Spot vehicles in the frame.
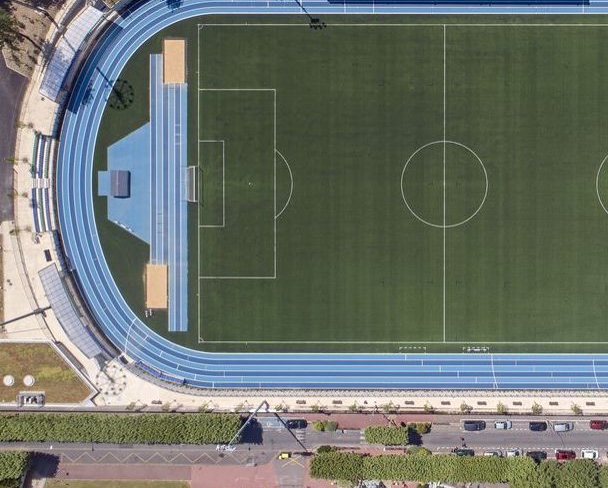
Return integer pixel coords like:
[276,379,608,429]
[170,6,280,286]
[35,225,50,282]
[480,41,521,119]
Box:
[525,449,548,461]
[454,447,475,457]
[493,420,513,431]
[286,419,308,429]
[463,420,486,430]
[588,420,608,431]
[279,451,290,460]
[504,448,525,460]
[553,448,576,460]
[527,421,548,431]
[482,448,502,458]
[552,421,574,432]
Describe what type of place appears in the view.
sports ground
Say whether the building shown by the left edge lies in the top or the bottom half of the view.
bottom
